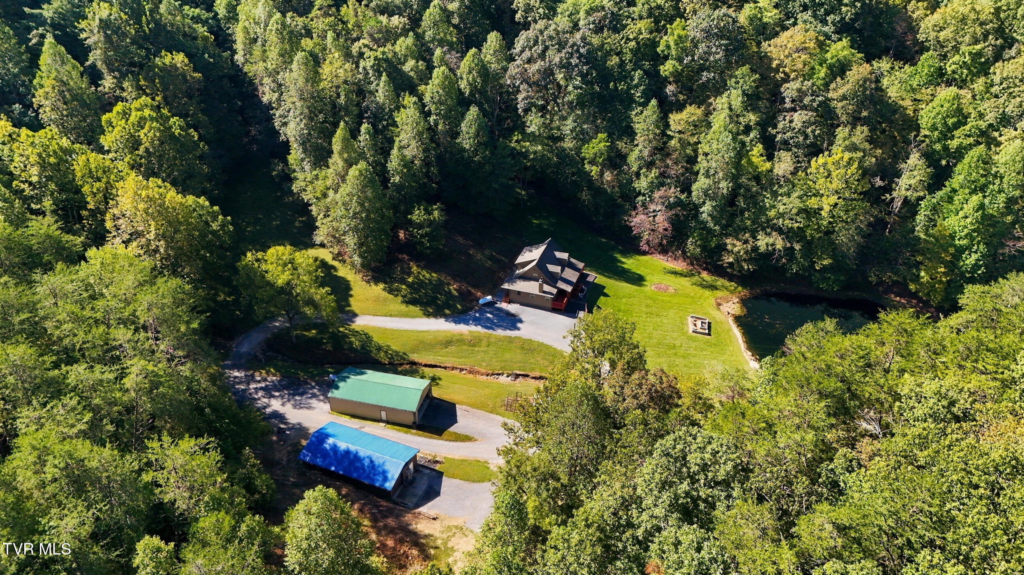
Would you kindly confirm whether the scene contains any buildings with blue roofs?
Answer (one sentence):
Yes, there's a building with a blue roof down there.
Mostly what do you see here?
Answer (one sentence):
The scene is dominated by trees.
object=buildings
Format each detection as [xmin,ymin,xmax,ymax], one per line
[299,421,421,501]
[501,238,584,311]
[327,367,431,425]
